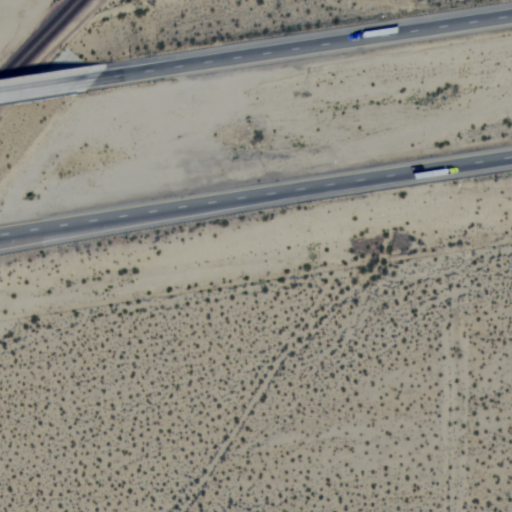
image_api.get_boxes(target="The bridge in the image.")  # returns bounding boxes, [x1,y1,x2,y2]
[0,49,108,107]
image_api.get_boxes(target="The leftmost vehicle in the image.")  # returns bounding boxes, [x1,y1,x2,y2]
[352,27,398,40]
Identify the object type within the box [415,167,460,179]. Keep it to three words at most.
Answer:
vehicle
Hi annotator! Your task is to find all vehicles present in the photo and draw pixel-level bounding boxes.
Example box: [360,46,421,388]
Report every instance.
[352,27,398,40]
[412,166,424,172]
[415,167,460,179]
